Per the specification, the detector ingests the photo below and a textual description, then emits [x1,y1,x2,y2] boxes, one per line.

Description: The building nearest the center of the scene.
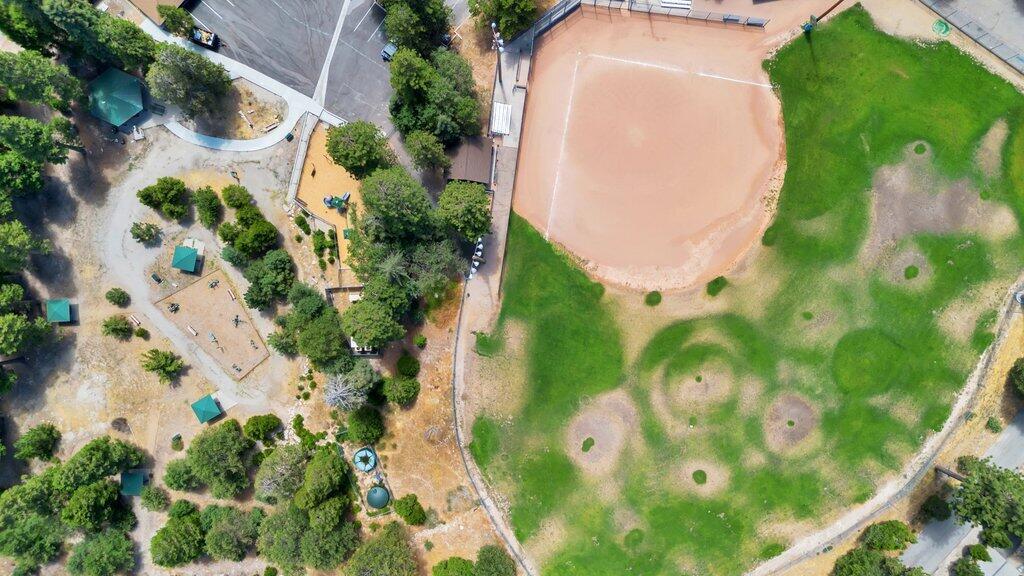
[449,138,493,183]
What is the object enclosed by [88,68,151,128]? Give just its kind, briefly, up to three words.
building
